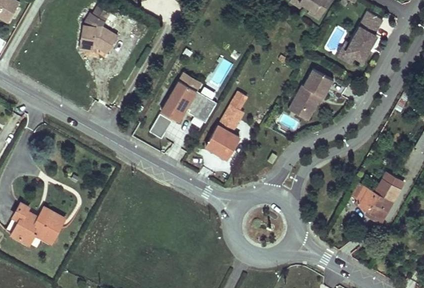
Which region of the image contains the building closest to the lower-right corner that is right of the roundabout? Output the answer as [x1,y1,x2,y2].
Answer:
[353,172,406,224]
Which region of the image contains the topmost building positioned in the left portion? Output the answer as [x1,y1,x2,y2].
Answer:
[0,0,22,24]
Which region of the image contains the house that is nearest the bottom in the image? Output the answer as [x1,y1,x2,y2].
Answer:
[7,202,66,248]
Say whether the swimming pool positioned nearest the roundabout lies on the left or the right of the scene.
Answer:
right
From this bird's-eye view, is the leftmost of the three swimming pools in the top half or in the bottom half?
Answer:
top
